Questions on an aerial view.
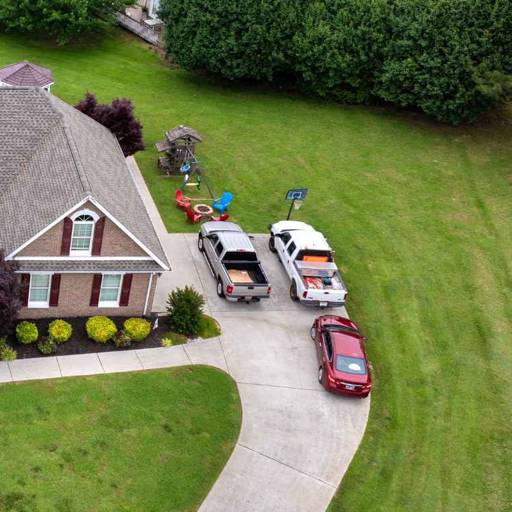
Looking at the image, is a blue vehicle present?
No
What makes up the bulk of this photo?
grass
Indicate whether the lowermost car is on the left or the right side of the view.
right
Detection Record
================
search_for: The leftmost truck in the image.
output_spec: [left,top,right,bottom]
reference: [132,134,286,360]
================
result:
[196,220,274,305]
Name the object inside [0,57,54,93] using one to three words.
gazebo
